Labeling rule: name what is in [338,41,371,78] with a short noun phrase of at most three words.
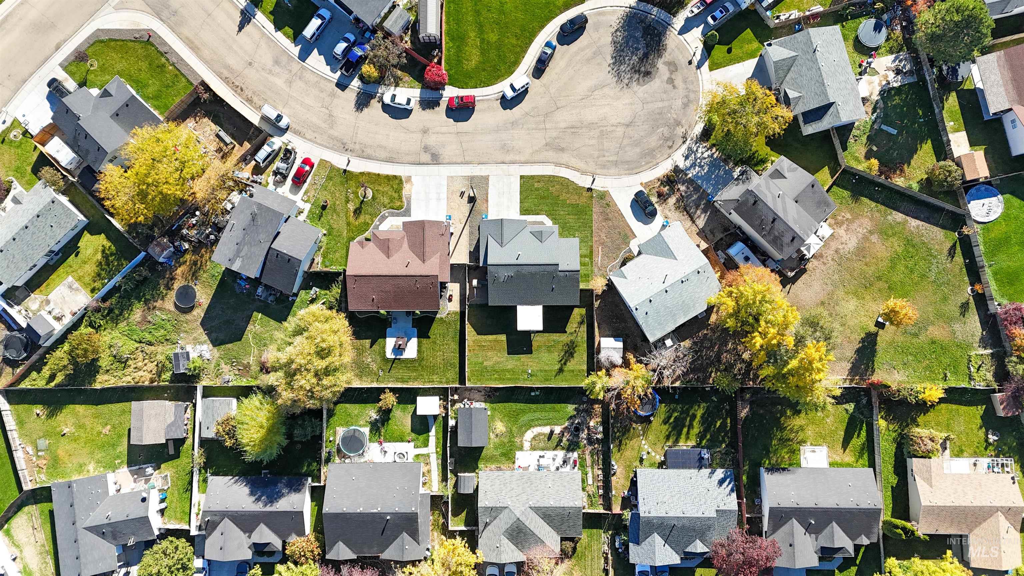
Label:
truck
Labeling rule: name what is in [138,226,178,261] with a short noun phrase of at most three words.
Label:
shed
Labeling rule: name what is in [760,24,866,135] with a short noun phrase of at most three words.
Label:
house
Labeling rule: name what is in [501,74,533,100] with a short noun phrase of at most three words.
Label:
car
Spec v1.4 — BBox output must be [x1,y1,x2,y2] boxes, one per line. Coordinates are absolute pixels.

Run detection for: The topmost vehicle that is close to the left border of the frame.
[44,72,74,99]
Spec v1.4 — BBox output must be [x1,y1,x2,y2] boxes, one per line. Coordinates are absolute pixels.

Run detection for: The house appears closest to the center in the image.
[479,219,580,306]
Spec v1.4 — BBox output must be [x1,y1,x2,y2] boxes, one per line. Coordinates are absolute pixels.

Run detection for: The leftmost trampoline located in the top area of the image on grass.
[855,18,887,49]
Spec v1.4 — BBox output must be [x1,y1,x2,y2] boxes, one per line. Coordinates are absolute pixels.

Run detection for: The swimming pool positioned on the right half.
[966,184,1004,222]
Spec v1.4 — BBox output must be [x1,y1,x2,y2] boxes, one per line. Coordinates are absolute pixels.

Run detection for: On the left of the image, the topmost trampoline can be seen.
[175,284,199,306]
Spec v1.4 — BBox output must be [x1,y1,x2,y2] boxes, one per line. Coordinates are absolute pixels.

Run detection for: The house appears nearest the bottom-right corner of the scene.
[903,454,1024,570]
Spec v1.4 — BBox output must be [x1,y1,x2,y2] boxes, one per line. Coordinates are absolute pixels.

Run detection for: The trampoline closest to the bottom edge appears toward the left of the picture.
[337,426,368,457]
